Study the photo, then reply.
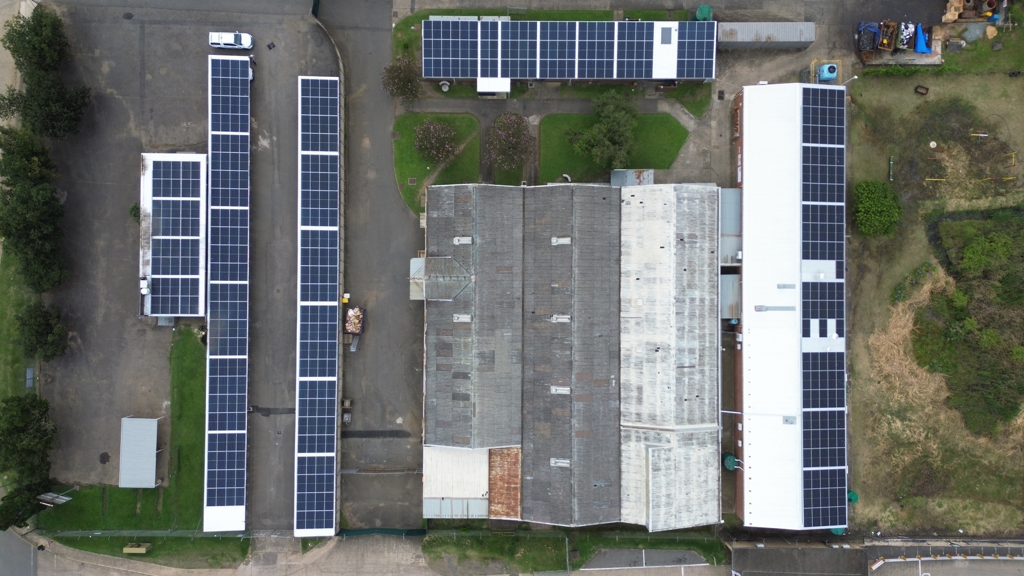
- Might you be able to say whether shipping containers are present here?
Yes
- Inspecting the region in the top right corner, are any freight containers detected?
Yes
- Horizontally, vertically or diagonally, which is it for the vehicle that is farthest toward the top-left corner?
horizontally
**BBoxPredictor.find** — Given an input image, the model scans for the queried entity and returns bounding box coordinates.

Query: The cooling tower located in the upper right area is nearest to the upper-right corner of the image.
[814,64,837,83]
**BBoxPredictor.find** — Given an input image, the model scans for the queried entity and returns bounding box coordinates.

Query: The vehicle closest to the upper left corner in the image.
[207,30,252,50]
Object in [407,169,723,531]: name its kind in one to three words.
building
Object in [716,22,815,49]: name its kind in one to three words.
shipping container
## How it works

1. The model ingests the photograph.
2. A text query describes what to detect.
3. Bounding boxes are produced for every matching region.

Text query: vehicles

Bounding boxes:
[249,68,258,83]
[207,30,252,50]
